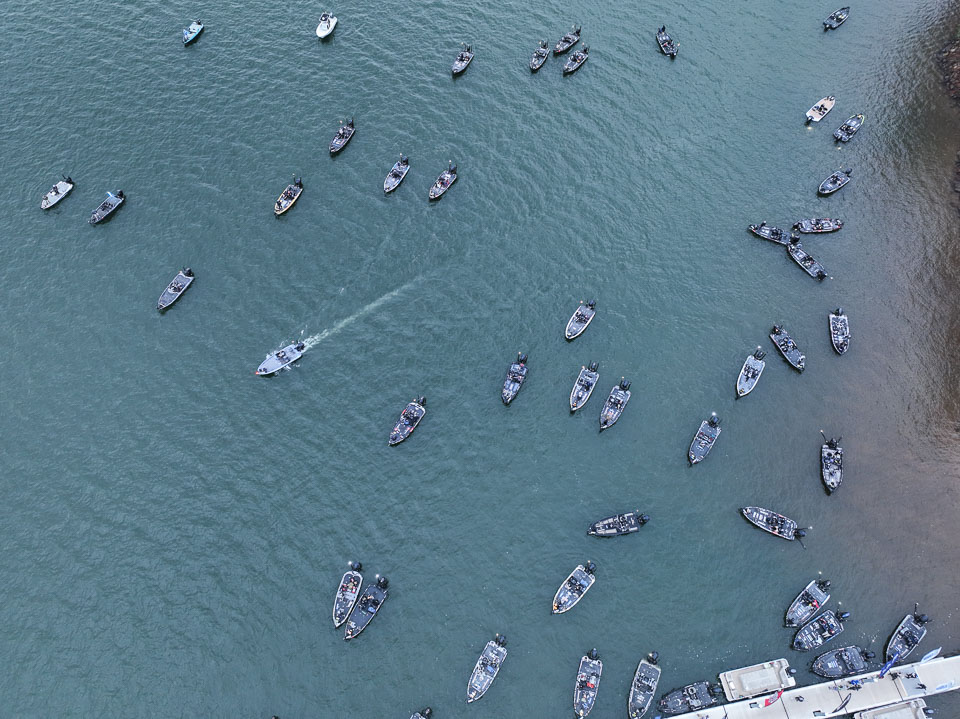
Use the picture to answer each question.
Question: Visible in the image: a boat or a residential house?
boat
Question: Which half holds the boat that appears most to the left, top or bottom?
top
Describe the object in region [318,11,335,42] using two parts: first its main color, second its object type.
white boat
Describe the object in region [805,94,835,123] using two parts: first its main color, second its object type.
white boat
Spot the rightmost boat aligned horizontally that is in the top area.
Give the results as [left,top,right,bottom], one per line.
[793,218,845,233]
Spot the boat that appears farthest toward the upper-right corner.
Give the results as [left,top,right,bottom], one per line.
[823,6,850,30]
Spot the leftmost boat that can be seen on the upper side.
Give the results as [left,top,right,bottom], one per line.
[40,175,73,209]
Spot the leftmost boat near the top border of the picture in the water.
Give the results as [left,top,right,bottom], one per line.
[184,17,203,41]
